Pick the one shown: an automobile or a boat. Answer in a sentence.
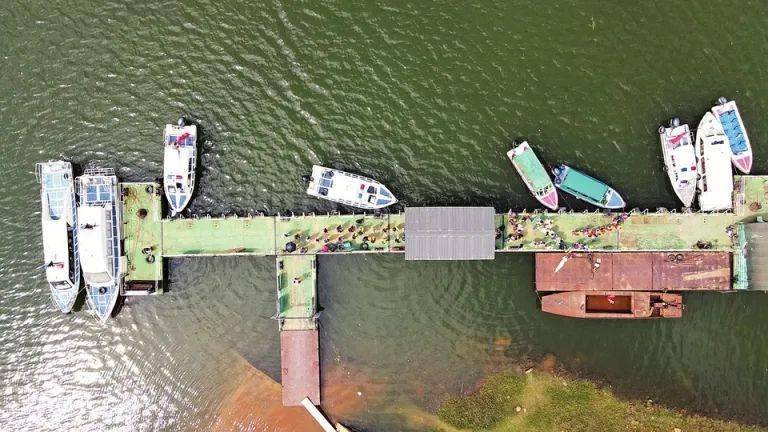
I can see a boat in this picture.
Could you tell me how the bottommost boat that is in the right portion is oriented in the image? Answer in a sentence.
In this picture, the bottommost boat that is in the right portion lies horizontally.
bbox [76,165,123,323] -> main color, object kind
white boat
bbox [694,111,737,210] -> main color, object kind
white boat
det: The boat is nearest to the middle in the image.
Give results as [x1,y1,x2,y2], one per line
[304,166,398,208]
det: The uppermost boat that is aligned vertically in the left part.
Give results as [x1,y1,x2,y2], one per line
[164,118,196,214]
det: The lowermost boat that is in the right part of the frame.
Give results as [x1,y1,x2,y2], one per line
[541,291,685,319]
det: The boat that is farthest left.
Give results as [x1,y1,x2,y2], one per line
[37,155,83,314]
